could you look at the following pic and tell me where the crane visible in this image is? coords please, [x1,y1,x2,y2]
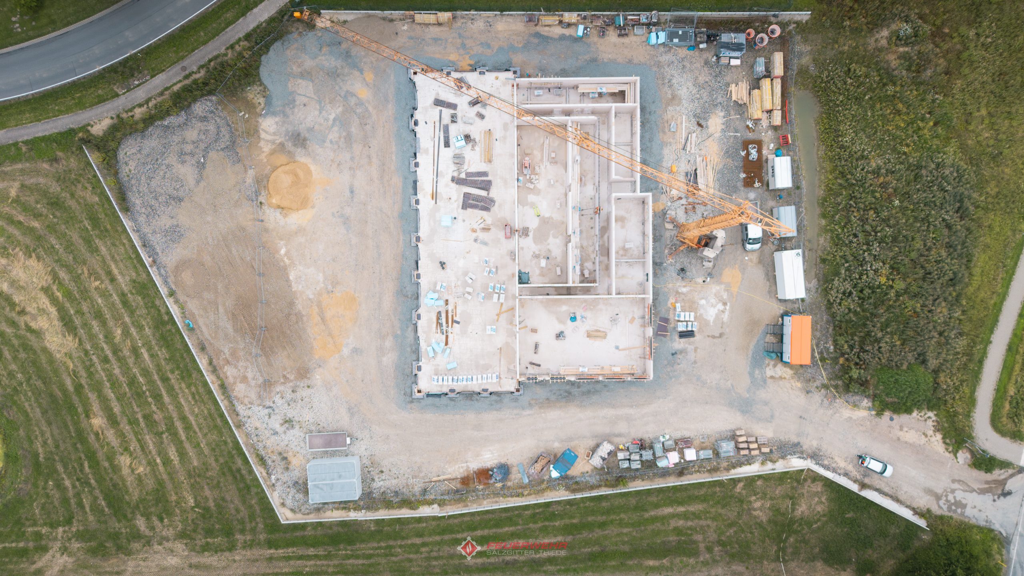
[297,13,795,263]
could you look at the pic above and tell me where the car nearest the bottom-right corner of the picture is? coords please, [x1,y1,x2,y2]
[856,452,892,477]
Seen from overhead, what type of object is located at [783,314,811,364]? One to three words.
shipping container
